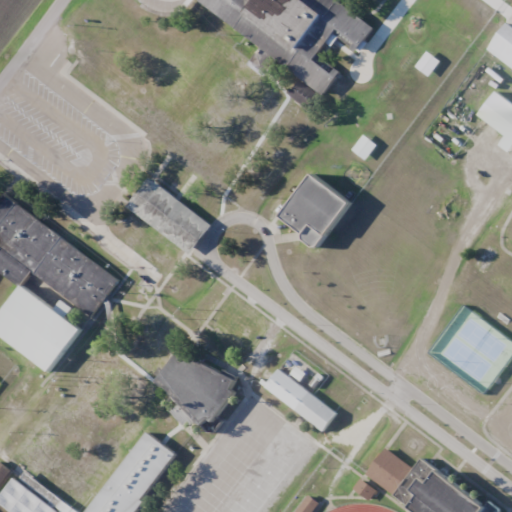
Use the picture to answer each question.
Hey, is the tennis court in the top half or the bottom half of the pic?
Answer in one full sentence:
It is in the bottom half that the tennis court appears.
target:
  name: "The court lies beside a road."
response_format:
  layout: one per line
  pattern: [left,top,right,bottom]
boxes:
[430,306,512,394]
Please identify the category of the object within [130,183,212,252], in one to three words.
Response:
building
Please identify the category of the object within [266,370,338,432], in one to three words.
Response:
building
